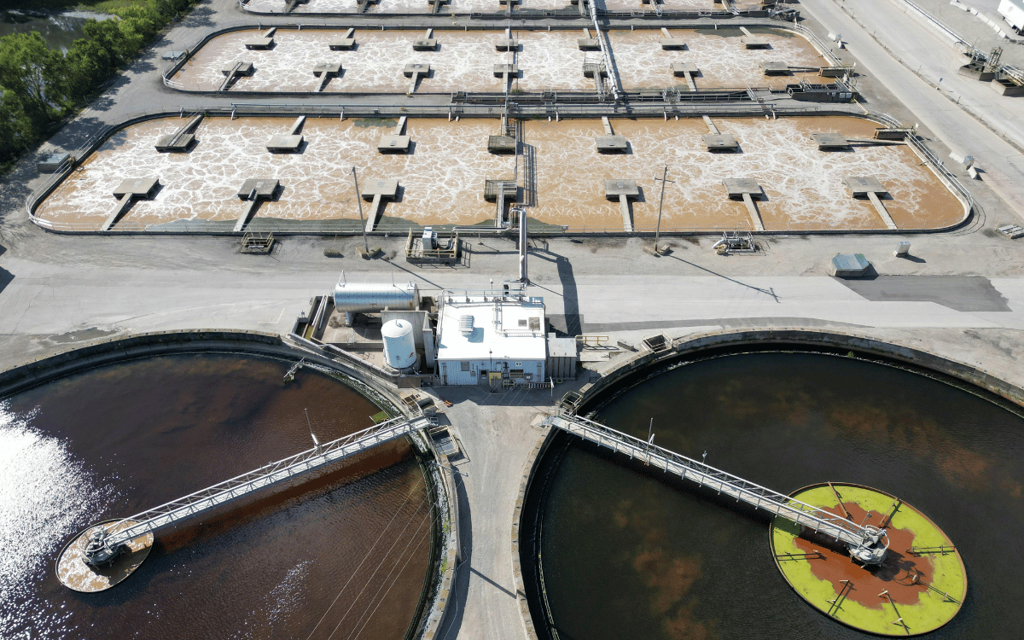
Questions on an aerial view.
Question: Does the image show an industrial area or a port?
industrial area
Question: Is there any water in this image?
Yes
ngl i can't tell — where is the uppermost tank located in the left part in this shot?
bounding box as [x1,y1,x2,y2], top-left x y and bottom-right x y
[333,269,447,324]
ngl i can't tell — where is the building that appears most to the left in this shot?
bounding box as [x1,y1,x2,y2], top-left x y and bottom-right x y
[434,292,547,386]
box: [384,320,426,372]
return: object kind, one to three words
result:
storage tank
